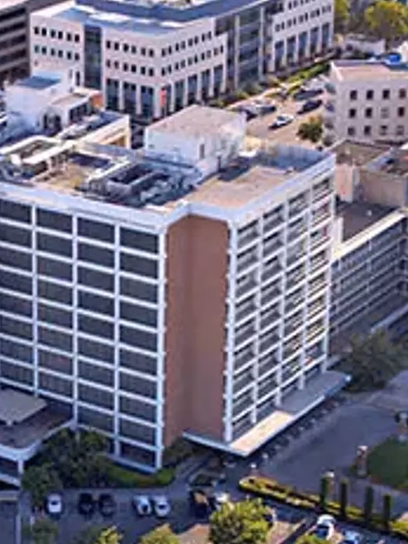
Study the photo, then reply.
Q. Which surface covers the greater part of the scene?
buildings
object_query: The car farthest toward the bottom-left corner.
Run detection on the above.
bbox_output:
[46,492,61,511]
